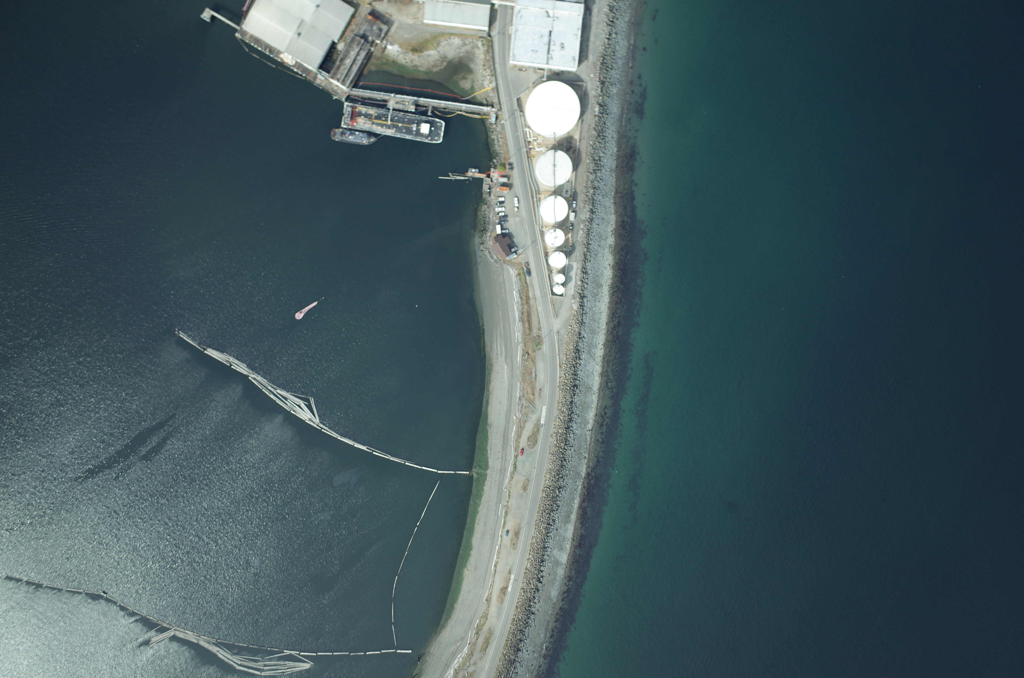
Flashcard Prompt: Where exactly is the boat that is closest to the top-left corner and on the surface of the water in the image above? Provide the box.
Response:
[330,127,377,143]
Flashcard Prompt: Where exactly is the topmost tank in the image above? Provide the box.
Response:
[521,81,581,139]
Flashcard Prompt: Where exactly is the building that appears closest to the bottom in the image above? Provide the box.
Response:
[491,234,513,261]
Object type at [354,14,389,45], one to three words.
building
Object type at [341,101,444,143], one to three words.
ship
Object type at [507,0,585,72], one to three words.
building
